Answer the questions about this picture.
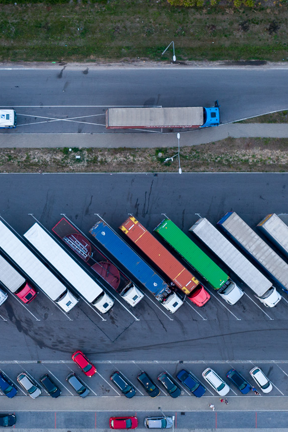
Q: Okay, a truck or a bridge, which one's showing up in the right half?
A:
truck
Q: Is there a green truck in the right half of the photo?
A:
Yes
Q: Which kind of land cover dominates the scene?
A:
paved ground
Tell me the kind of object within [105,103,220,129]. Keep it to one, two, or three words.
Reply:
truck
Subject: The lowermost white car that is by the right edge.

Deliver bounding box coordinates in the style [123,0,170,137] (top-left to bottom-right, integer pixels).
[249,366,274,394]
